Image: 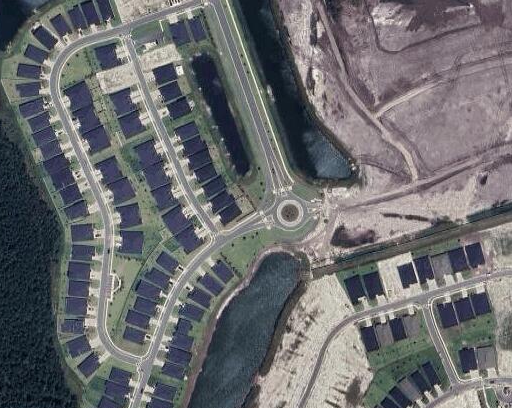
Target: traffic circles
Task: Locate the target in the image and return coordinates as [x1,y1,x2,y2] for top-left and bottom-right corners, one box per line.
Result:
[264,184,315,231]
